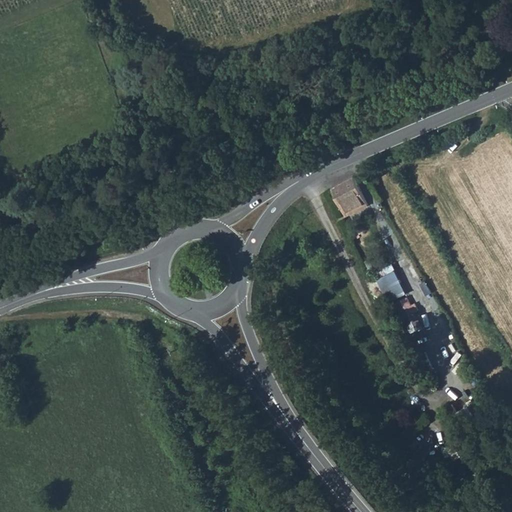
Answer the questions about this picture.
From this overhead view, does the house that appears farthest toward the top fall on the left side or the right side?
right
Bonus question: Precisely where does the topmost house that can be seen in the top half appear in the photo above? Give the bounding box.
[330,178,368,218]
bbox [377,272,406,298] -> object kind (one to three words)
building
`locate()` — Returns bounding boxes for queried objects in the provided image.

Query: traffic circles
[150,219,252,320]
